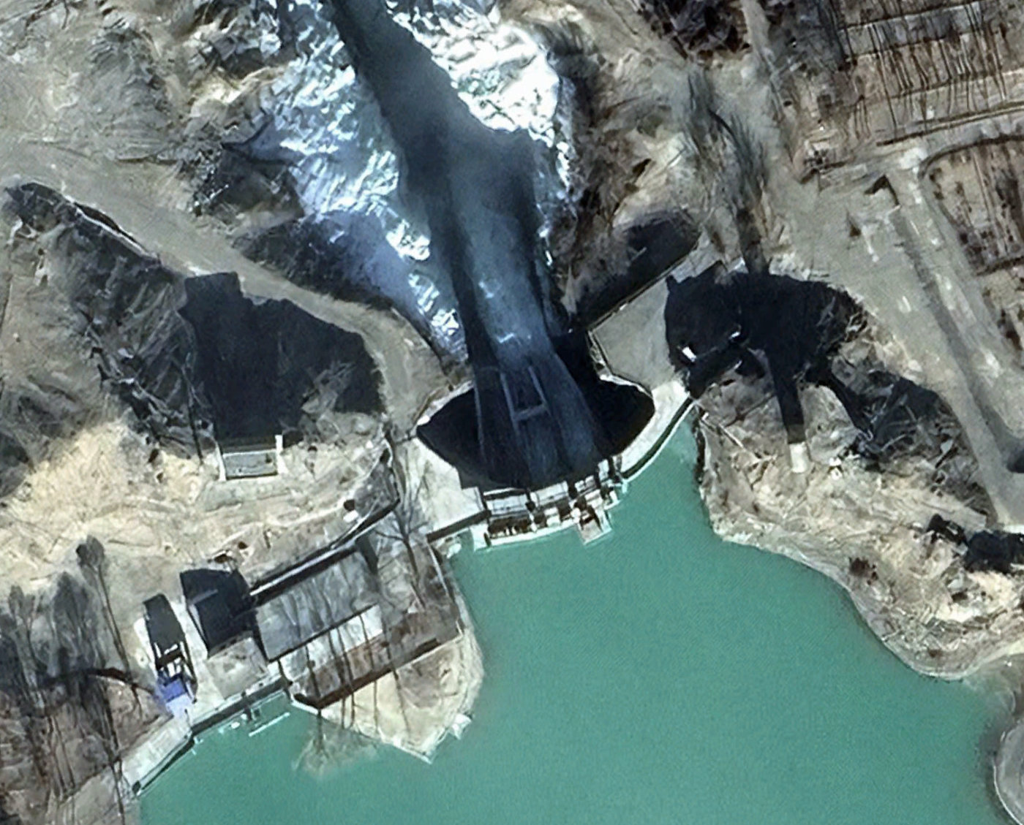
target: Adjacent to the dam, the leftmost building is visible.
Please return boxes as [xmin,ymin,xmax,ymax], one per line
[258,537,380,665]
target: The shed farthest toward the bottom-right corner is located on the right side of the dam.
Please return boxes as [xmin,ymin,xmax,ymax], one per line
[926,513,965,548]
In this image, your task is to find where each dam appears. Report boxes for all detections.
[406,219,693,548]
